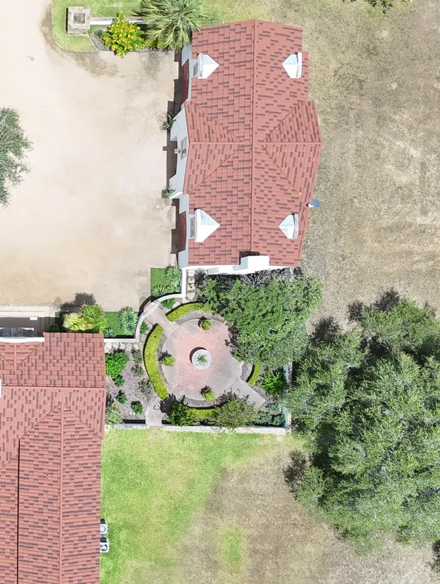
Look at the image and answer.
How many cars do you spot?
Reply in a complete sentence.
Not a single car can be seen.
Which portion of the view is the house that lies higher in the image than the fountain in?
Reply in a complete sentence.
The house that lies higher in the image than the fountain is located in the top region of the scene.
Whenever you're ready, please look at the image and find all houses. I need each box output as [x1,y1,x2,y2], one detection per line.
[171,17,322,274]
[0,327,109,584]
